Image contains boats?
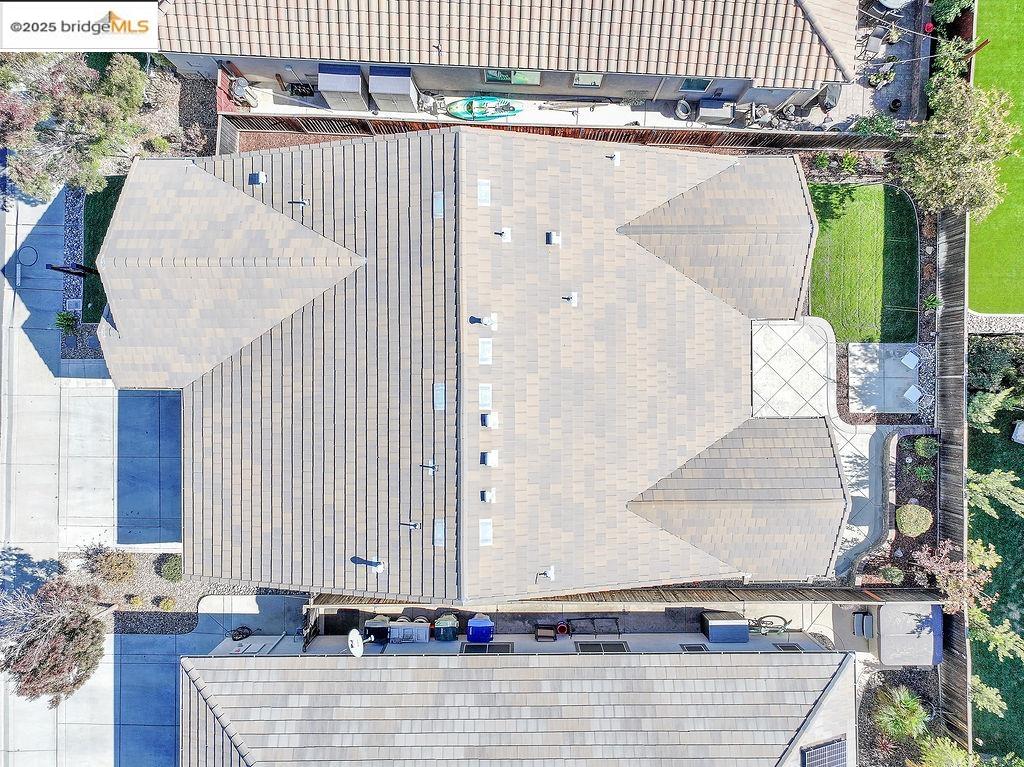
Yes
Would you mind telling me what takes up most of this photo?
buildings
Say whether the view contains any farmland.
No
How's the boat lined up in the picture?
from left to right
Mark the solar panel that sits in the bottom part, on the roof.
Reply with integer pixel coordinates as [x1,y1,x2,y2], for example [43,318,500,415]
[808,732,844,767]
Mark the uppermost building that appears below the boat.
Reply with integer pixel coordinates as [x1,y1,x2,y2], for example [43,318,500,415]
[96,125,850,606]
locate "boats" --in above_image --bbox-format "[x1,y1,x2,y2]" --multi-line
[448,94,524,120]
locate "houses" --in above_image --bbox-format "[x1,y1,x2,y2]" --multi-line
[121,0,862,118]
[96,125,850,606]
[177,632,858,767]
